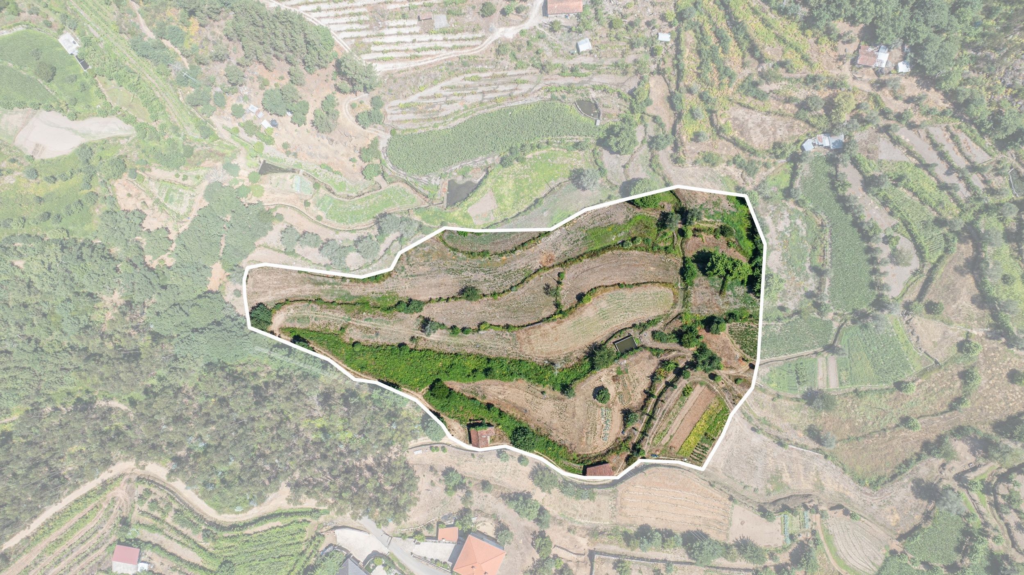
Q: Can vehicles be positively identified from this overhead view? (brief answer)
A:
No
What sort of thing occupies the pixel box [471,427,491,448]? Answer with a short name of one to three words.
house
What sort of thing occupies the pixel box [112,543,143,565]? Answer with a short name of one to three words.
shed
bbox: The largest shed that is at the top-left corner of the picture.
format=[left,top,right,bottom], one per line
[59,33,84,57]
